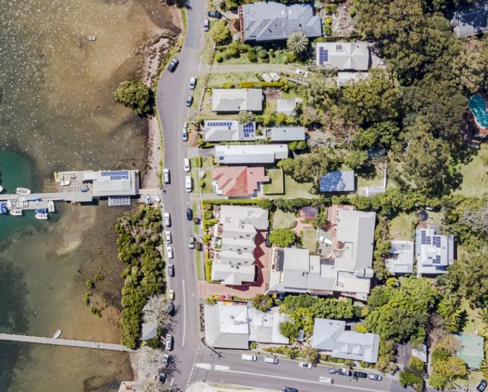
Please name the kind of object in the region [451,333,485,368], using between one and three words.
house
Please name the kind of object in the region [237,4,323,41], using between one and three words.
house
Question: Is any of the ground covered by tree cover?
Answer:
Yes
